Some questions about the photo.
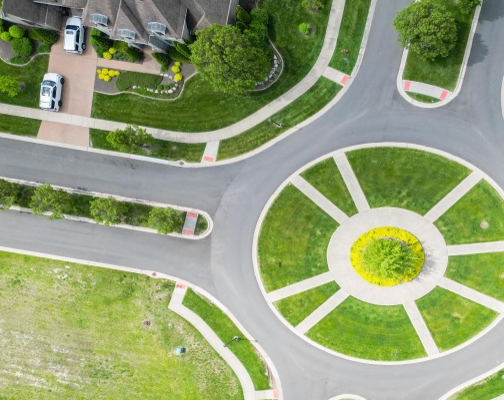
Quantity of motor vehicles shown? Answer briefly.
2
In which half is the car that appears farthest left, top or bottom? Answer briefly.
top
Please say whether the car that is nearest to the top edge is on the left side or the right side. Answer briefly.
left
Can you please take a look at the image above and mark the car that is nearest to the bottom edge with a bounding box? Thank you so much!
[37,74,60,115]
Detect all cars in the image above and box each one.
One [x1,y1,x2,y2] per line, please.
[61,17,84,57]
[37,74,60,115]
